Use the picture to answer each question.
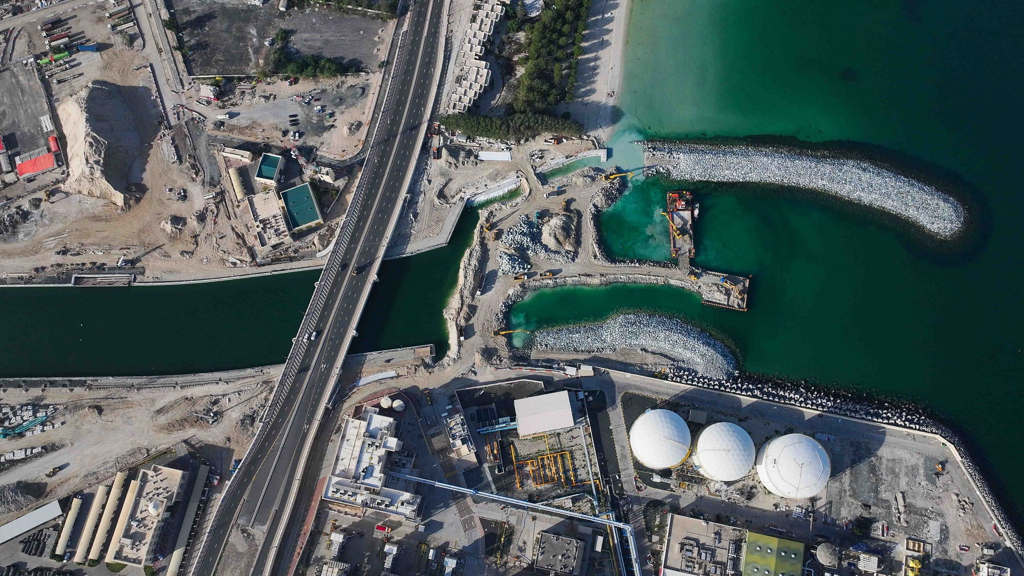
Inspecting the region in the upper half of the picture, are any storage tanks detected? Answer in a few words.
No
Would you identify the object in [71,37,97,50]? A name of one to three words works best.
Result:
vehicle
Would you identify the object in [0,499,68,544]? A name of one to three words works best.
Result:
shed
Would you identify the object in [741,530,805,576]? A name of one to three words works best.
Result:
building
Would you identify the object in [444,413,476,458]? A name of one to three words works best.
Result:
house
